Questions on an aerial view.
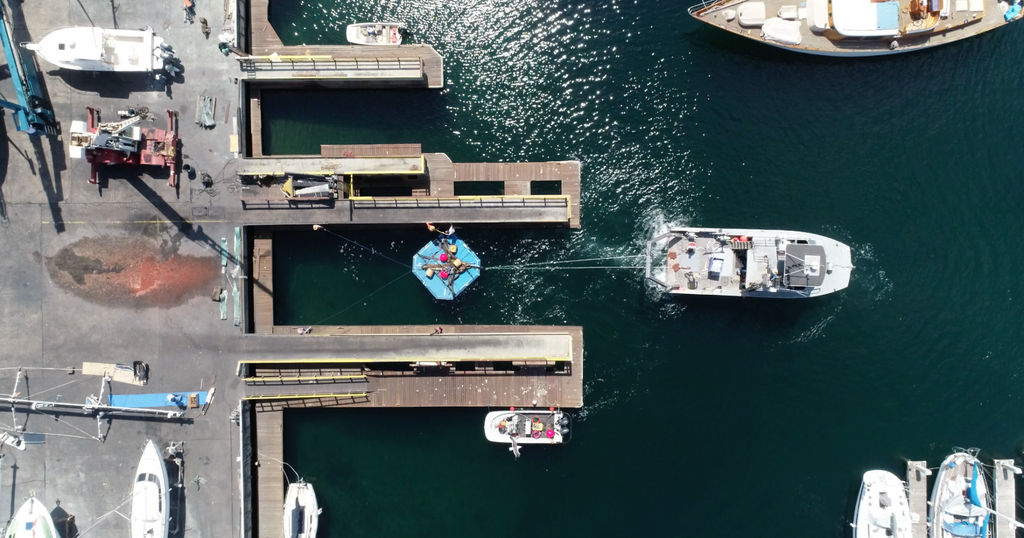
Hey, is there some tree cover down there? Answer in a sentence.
No, tree cover can't be seen anywhere here.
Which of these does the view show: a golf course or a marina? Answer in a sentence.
This image shows a marina.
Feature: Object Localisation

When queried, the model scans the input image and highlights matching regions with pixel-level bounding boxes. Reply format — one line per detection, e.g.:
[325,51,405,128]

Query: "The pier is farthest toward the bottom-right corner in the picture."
[992,459,1017,538]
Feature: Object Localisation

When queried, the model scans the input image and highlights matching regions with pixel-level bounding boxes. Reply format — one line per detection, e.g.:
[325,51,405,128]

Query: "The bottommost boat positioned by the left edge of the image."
[1,492,59,538]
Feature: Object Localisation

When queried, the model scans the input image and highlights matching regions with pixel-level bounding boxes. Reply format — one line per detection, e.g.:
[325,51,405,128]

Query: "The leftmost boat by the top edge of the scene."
[20,0,184,78]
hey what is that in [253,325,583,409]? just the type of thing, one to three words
pier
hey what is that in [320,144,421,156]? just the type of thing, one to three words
pier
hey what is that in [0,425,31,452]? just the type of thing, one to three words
boat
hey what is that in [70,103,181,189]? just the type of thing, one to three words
crane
